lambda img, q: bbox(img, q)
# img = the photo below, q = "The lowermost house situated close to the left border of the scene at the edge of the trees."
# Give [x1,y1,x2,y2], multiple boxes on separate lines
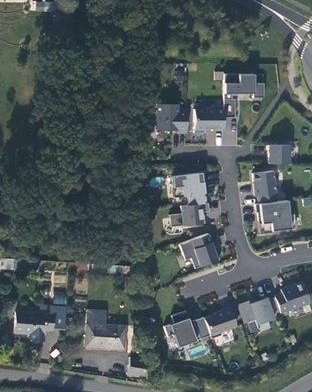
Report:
[13,302,68,345]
